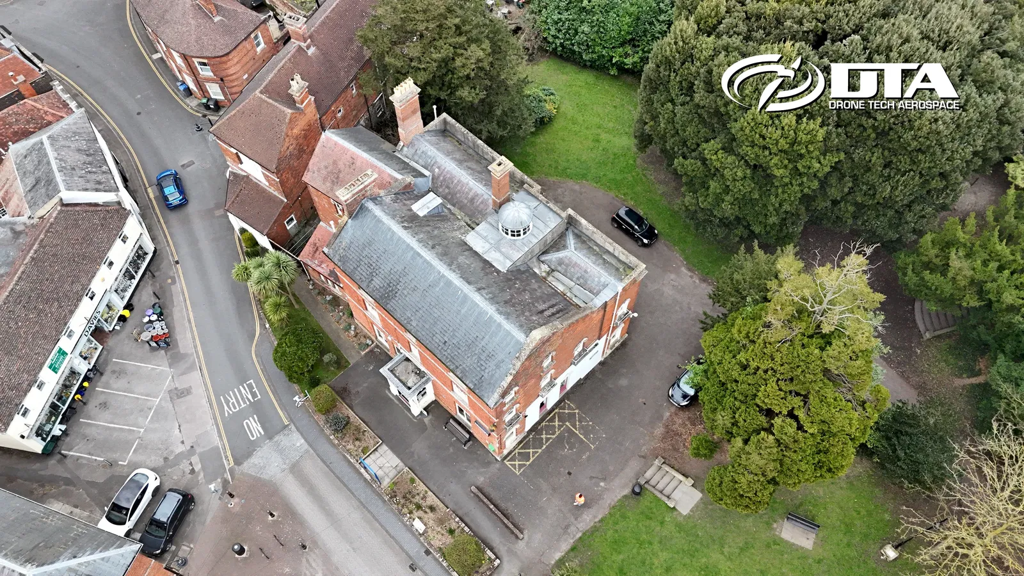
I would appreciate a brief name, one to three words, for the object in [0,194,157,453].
building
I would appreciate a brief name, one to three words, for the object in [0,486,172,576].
house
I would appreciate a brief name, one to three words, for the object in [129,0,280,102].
house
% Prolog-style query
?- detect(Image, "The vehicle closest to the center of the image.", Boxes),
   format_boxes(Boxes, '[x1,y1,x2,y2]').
[608,205,656,245]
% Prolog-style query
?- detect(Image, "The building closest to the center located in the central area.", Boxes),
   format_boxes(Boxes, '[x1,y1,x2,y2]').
[298,76,648,463]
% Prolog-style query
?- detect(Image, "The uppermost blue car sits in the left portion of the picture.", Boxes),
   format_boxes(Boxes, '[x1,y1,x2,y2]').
[154,171,188,213]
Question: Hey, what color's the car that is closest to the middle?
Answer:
black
